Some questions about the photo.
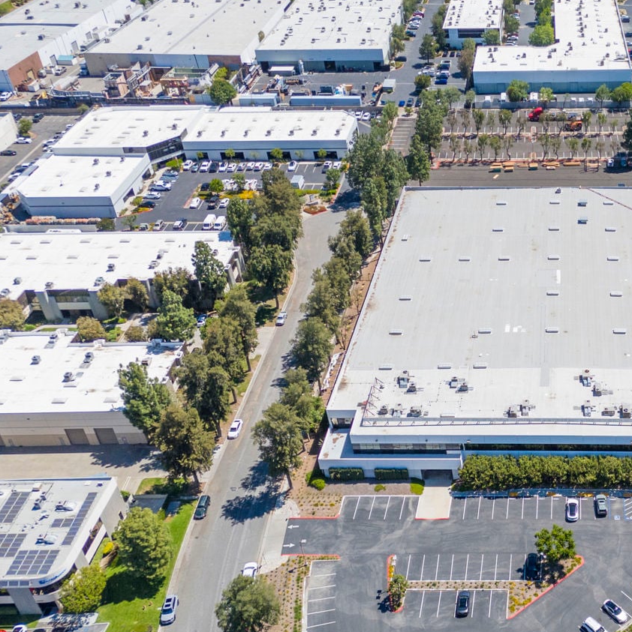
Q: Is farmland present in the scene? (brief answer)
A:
No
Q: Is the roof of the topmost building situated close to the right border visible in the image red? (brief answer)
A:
No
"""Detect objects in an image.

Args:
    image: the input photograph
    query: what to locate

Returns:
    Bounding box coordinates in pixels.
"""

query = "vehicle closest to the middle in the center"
[276,310,288,325]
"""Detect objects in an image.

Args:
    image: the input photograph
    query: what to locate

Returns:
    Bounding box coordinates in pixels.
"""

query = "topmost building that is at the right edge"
[473,0,631,93]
